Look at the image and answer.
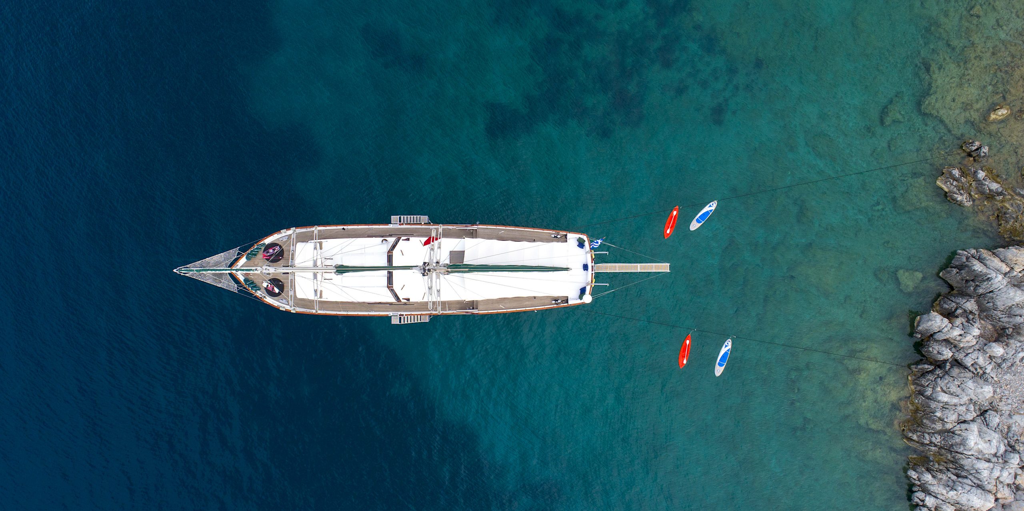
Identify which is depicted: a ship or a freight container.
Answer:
ship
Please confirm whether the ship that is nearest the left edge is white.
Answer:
Yes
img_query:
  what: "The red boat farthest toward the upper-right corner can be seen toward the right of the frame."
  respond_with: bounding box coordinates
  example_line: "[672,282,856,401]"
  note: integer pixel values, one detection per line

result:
[665,206,678,239]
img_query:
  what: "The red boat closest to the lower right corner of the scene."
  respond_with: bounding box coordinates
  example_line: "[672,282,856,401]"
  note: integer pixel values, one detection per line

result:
[679,330,694,369]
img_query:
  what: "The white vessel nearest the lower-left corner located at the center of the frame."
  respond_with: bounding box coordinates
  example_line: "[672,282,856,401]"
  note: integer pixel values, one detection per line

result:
[173,216,670,324]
